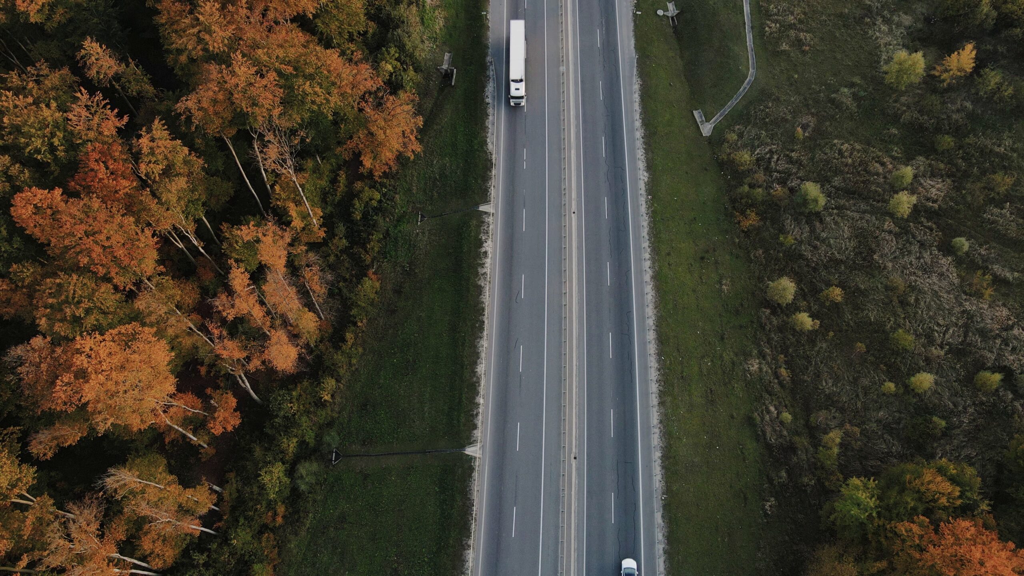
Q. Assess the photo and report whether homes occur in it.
No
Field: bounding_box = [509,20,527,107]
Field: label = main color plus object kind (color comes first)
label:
white vehicle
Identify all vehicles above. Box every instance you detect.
[621,558,638,576]
[509,20,527,107]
